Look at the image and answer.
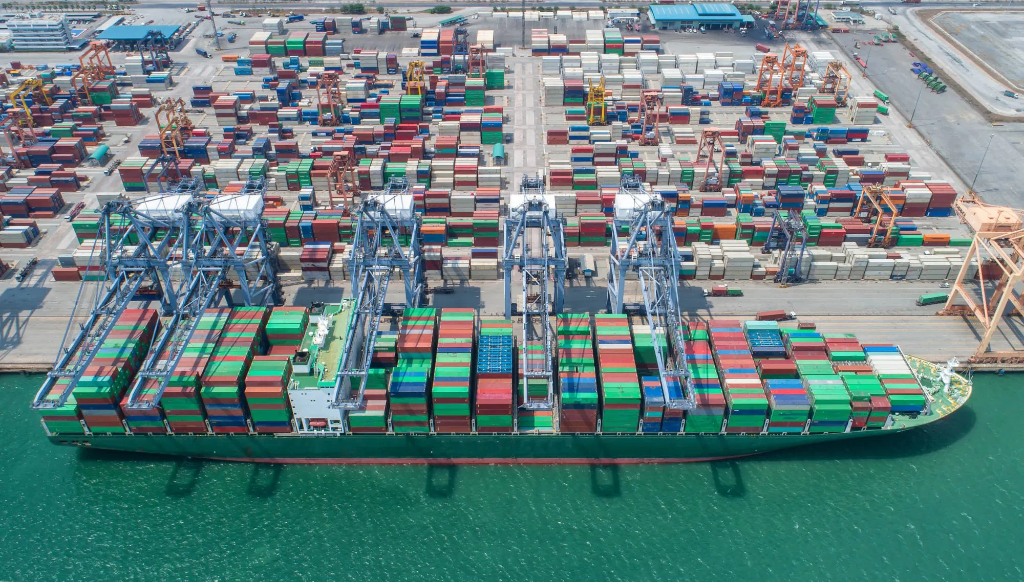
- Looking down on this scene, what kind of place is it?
port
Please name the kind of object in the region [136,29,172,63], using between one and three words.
crane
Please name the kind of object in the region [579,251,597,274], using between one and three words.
shed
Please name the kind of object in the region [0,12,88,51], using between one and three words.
building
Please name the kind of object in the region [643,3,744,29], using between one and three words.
building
